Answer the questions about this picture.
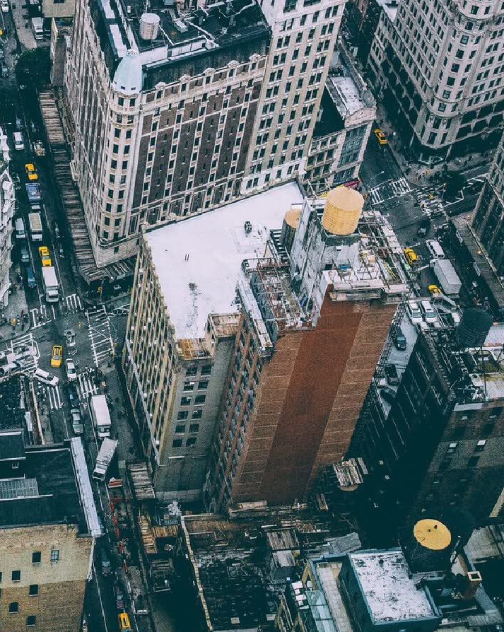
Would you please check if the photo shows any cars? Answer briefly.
Yes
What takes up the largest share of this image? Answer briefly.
buildings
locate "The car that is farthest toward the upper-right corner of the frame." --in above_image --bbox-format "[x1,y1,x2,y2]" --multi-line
[375,129,387,143]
